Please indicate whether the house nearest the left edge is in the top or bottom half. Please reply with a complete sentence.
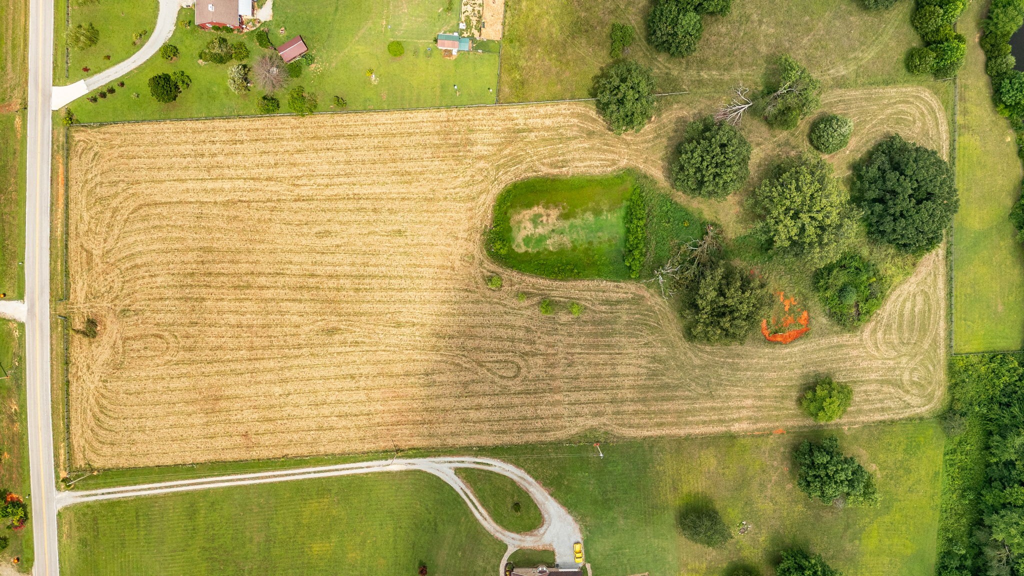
The house nearest the left edge is in the top half of the image.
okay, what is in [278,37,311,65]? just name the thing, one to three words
shed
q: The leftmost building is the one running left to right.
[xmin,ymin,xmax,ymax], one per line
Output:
[195,0,265,32]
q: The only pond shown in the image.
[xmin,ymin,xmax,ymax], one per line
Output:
[493,171,640,281]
